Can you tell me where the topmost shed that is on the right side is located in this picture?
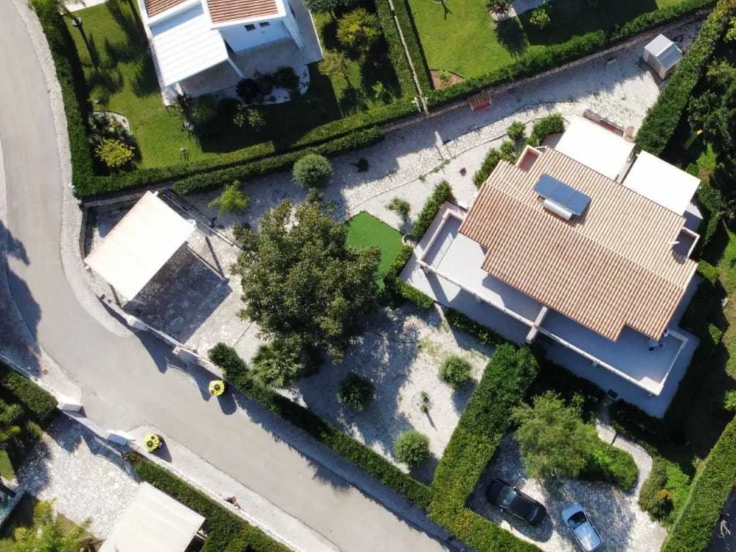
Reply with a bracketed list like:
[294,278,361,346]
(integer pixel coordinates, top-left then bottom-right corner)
[642,35,683,78]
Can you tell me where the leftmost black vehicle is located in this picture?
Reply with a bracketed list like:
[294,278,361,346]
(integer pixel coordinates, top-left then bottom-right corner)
[484,475,551,529]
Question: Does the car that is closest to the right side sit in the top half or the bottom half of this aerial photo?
bottom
